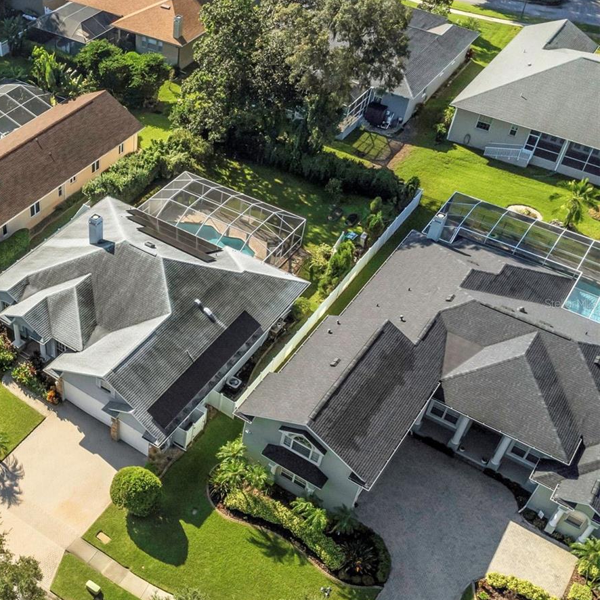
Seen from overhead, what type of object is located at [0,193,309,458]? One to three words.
house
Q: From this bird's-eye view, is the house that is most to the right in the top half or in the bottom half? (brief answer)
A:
top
